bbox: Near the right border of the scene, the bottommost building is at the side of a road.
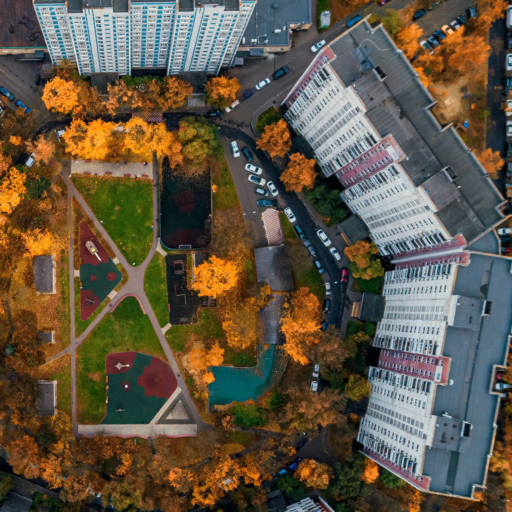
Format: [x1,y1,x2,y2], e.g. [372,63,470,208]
[353,252,512,504]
